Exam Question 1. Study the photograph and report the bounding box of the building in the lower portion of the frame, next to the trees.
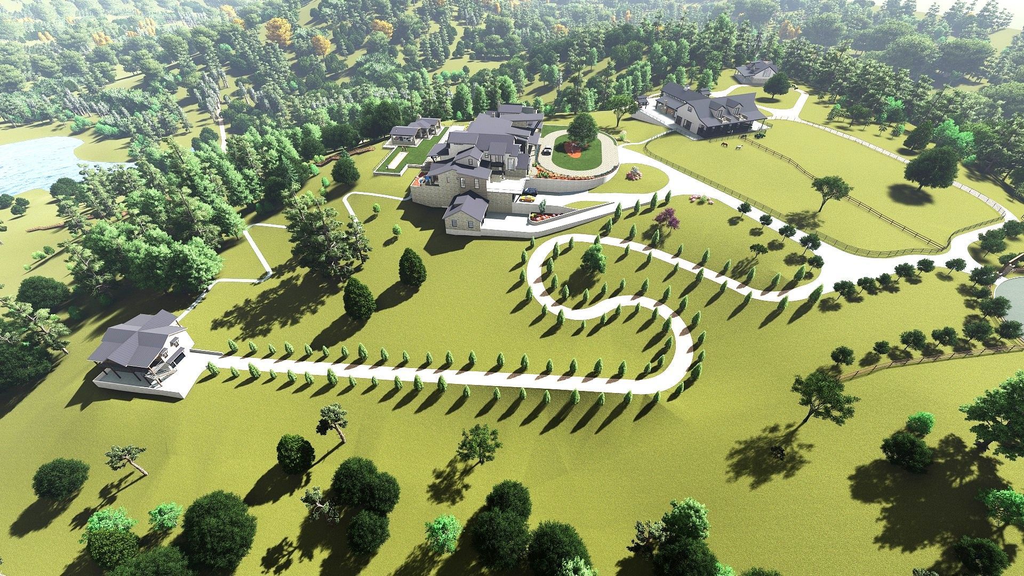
[86,308,195,387]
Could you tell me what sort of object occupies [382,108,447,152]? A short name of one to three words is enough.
building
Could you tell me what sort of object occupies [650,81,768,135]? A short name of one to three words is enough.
barn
